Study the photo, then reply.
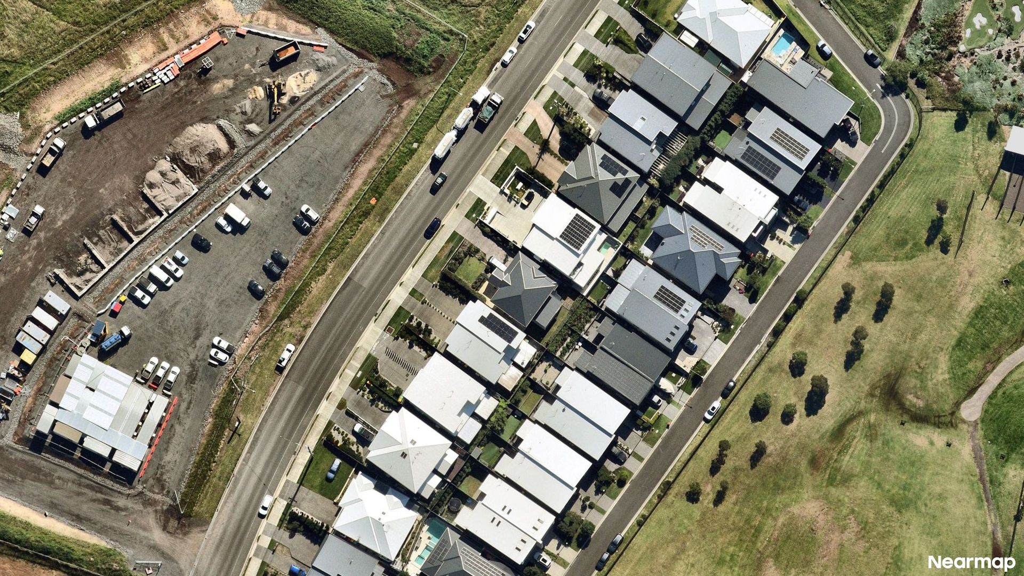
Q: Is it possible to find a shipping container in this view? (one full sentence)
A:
Yes, there's a shipping container here.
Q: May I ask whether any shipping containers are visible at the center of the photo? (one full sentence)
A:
No, I see no shipping container at the center of the photo.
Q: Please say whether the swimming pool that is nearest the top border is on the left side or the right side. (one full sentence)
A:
It is on the right.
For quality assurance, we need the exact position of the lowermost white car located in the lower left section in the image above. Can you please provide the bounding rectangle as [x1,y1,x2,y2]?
[258,494,274,518]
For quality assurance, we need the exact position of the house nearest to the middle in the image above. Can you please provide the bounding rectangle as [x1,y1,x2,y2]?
[488,251,563,330]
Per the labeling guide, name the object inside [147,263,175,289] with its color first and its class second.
white vehicle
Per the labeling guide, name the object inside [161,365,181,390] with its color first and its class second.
white vehicle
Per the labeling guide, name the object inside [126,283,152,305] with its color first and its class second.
white truck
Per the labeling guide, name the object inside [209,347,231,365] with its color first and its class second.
white car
